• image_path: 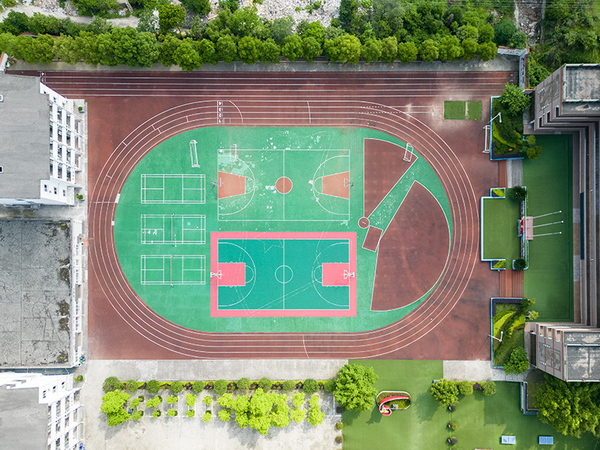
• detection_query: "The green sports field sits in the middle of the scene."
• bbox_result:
[114,127,452,333]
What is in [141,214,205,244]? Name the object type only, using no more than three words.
sports court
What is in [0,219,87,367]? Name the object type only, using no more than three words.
building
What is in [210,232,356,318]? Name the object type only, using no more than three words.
basketball court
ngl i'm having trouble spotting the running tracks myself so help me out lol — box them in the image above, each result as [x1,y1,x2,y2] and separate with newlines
[24,71,519,359]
